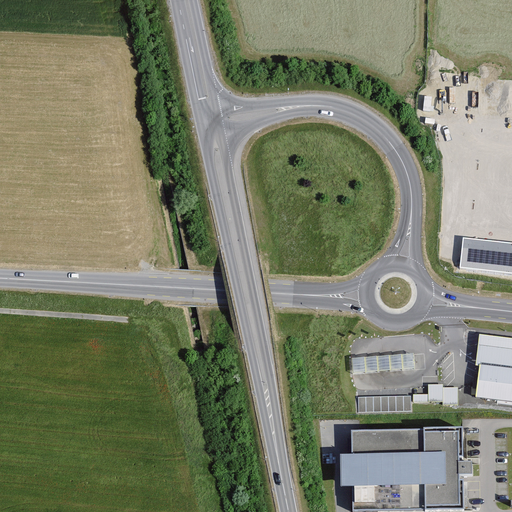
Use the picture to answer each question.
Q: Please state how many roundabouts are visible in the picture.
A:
1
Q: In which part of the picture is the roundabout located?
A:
right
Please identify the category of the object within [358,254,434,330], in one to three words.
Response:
roundabout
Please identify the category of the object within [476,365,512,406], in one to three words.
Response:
building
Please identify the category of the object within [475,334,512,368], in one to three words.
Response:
building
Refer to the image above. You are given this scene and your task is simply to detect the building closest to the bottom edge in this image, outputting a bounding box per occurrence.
[340,426,473,510]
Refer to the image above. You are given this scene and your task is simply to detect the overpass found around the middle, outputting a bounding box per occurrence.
[214,239,272,343]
